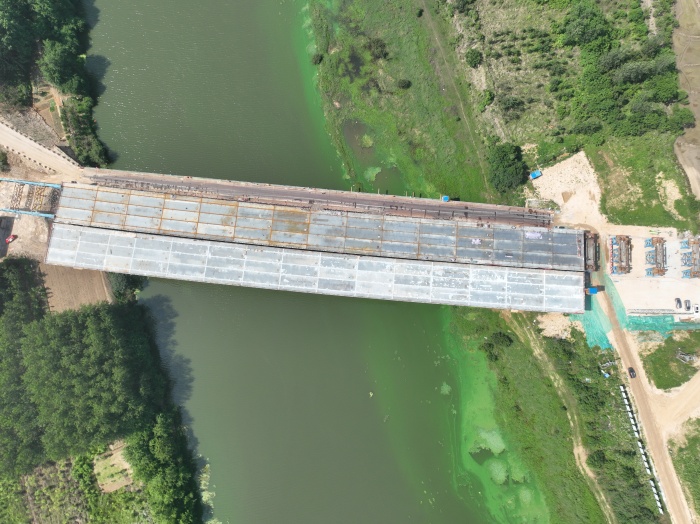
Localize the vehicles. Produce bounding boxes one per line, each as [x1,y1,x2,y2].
[693,303,700,314]
[628,367,636,378]
[674,297,682,309]
[684,299,691,311]
[4,234,17,243]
